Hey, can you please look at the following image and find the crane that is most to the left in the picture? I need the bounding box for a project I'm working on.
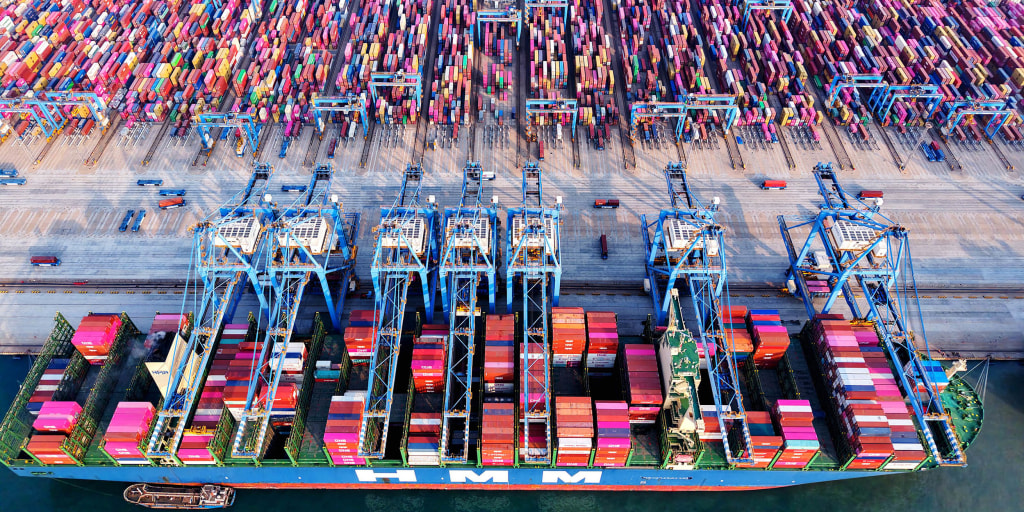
[0,92,59,137]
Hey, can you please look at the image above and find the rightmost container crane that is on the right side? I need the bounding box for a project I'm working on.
[935,93,1011,138]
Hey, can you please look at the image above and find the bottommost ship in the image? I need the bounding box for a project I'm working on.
[120,485,236,511]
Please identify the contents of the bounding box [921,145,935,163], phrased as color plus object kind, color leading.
blue vehicle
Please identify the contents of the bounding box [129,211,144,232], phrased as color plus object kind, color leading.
blue vehicle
